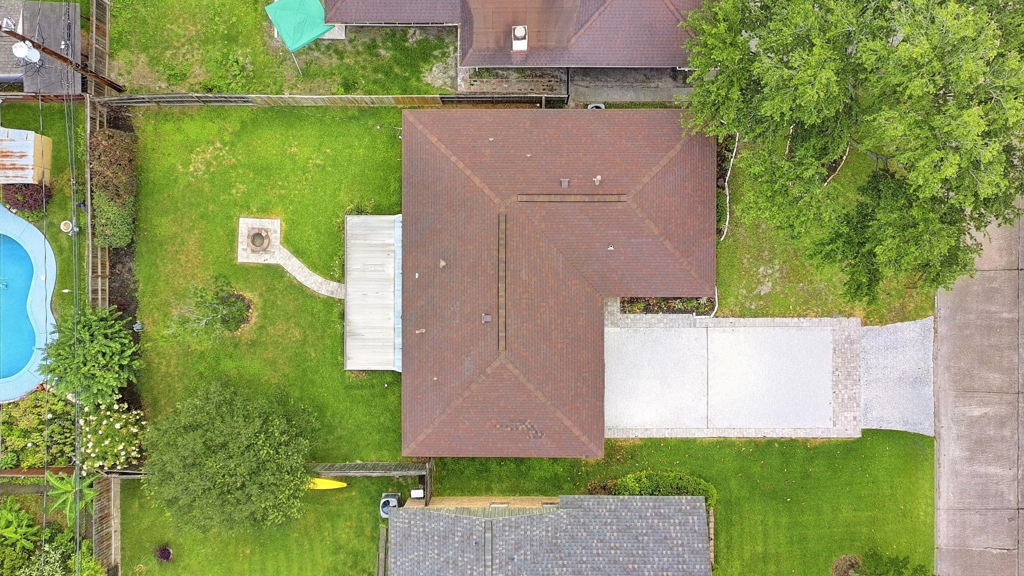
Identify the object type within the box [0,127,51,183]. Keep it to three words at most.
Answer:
shed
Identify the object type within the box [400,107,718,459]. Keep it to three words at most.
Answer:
house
